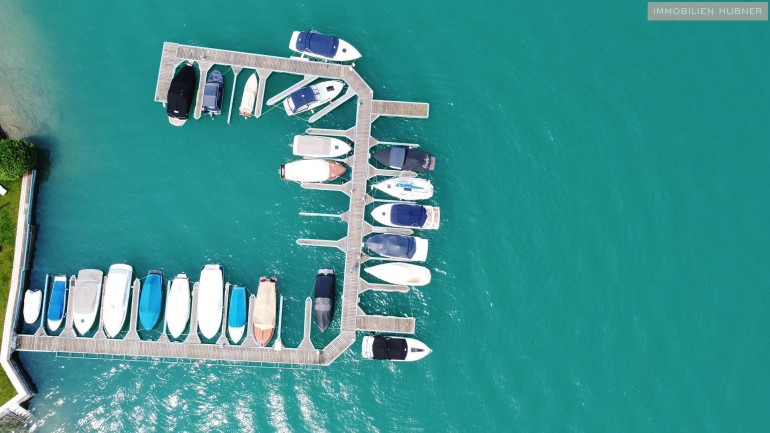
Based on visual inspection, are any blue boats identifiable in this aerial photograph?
Yes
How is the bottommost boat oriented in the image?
horizontally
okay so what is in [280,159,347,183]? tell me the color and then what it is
white boat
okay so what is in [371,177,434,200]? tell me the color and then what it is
white boat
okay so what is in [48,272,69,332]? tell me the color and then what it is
blue boat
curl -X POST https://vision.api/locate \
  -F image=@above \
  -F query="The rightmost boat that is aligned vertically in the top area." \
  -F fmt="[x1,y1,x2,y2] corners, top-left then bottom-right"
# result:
[240,74,259,119]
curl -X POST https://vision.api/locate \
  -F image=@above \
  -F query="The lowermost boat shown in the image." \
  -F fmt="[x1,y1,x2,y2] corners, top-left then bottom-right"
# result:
[362,335,433,362]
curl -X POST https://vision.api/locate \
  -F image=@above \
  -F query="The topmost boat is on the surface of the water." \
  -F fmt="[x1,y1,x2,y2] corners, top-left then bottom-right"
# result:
[289,29,362,62]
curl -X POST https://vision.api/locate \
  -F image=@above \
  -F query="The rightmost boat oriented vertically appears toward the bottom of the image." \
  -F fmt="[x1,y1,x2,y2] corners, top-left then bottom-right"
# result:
[314,267,335,333]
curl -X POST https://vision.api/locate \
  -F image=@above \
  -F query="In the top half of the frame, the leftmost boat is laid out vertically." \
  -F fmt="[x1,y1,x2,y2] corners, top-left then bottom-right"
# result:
[168,61,197,129]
